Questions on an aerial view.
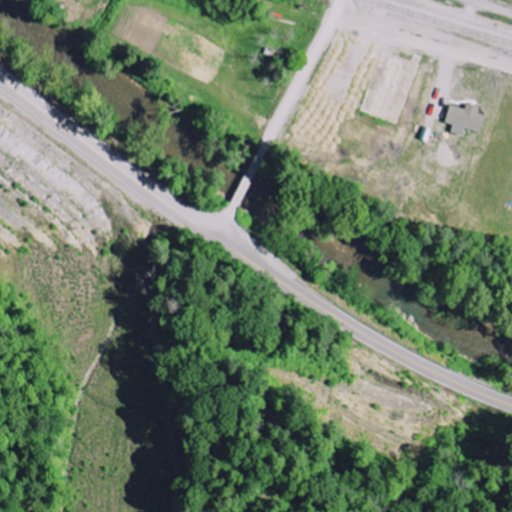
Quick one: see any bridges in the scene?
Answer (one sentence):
Yes, the image includes a bridge.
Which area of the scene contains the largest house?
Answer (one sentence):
Look in the top right portion of the view to spot the largest house.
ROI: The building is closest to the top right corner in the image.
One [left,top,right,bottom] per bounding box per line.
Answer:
[446,104,484,136]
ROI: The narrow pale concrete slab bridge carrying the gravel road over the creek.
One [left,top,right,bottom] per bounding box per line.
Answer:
[231,146,267,208]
